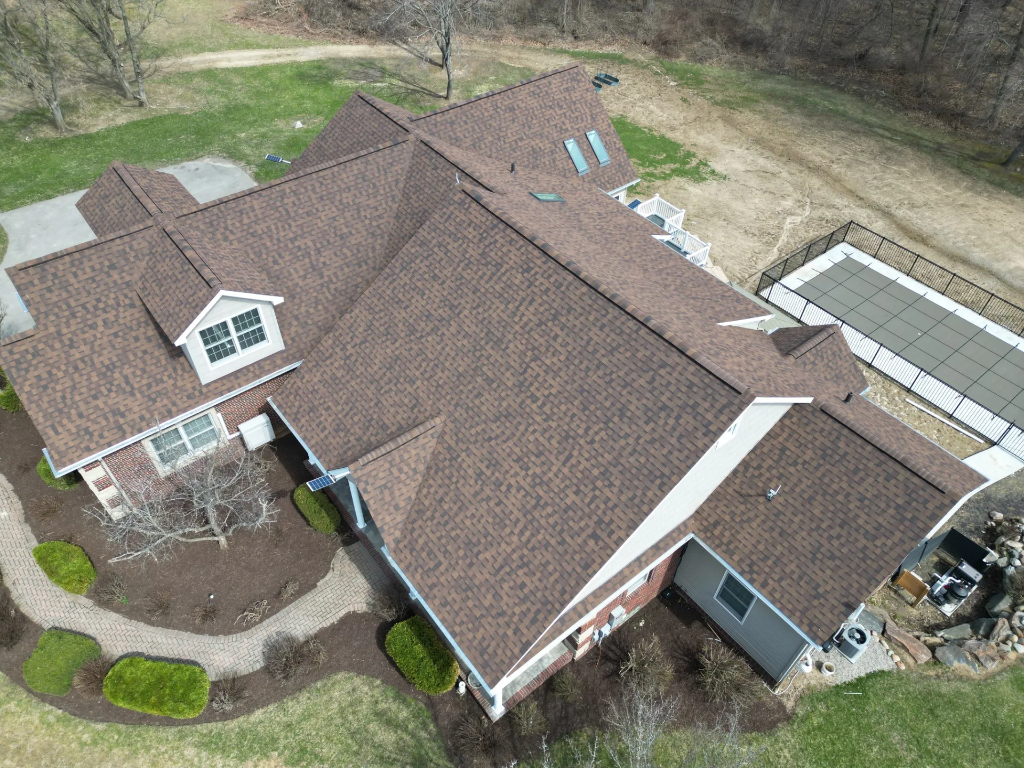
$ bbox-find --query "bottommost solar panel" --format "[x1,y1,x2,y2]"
[309,475,333,491]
